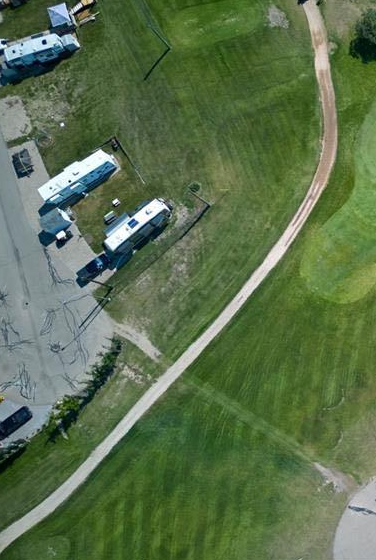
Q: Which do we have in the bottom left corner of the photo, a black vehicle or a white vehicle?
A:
black vehicle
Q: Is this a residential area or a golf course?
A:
golf course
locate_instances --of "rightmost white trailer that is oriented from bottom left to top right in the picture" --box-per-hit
[104,198,179,254]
